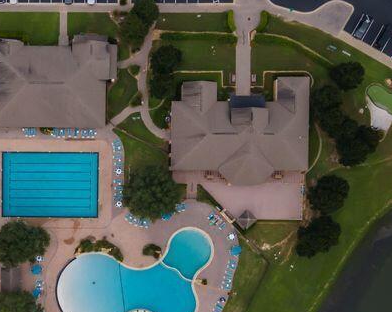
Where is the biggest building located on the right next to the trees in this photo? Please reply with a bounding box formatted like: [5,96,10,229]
[169,77,310,186]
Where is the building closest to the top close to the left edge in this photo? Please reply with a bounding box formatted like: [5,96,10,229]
[0,35,118,129]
